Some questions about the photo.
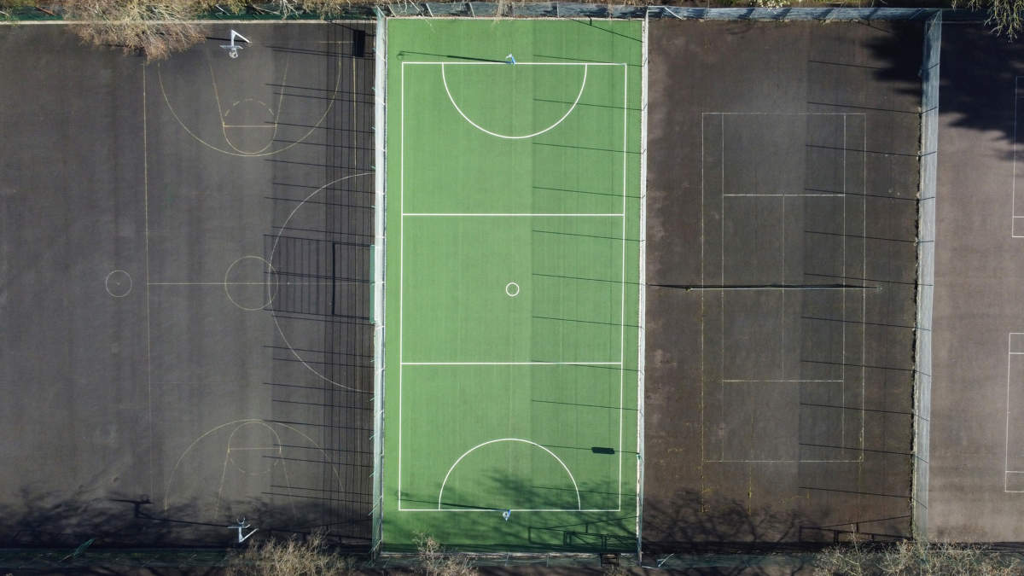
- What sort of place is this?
sports ground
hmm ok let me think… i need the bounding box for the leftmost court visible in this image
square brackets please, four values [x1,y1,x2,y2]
[0,19,386,554]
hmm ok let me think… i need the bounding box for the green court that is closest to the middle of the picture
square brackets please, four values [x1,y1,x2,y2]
[385,20,642,555]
